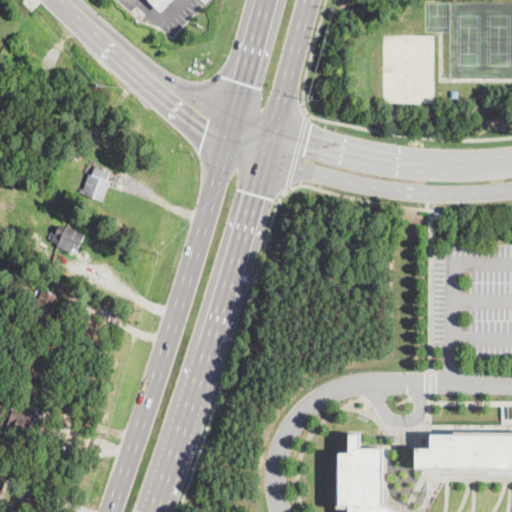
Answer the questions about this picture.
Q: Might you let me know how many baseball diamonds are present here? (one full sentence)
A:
The picture shows no baseball diamonds.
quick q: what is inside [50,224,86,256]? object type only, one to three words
house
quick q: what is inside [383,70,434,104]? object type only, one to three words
sports court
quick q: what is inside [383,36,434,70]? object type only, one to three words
sports court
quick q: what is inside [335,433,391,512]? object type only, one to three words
building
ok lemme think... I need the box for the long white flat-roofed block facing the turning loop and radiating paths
[414,432,512,471]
